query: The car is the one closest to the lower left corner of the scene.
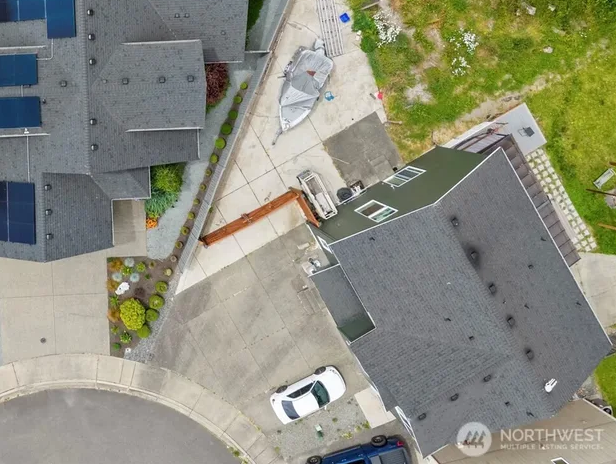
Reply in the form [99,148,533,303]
[266,365,347,421]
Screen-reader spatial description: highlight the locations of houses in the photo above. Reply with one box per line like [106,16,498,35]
[305,141,612,459]
[0,0,249,261]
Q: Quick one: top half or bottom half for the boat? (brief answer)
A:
top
